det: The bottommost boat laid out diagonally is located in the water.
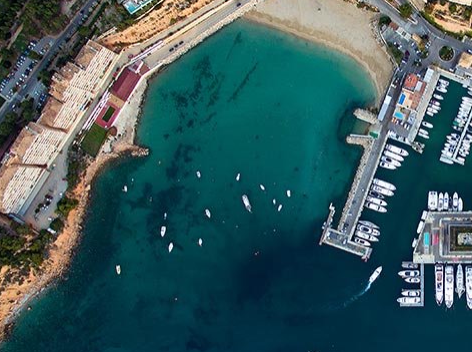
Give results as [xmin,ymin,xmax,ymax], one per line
[367,266,381,284]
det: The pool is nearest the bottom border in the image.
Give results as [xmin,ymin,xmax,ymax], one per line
[390,105,408,121]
